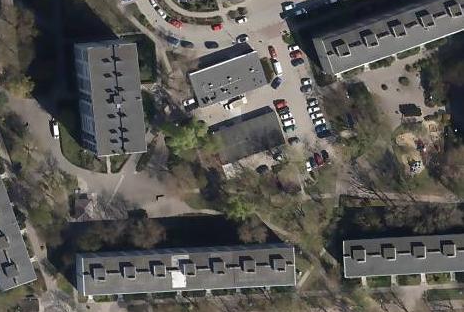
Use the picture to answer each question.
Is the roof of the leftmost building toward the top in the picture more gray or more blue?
gray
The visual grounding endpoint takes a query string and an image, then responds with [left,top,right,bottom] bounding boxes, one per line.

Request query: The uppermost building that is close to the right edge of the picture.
[313,0,464,79]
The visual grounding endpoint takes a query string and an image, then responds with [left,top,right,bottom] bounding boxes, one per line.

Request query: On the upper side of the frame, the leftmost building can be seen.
[76,40,147,158]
